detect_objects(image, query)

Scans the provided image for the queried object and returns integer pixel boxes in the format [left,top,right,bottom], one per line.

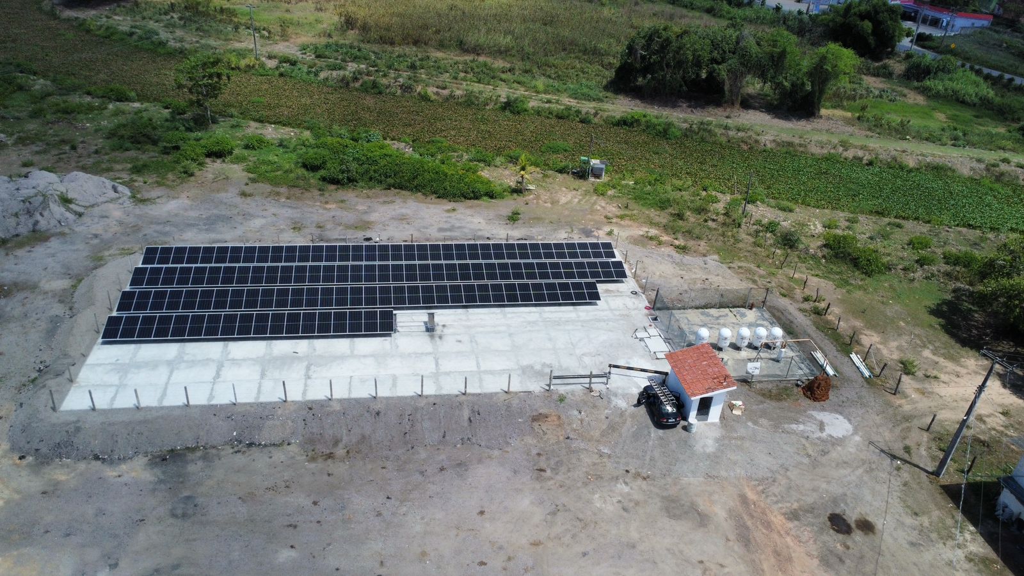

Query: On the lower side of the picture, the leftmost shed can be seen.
[666,344,738,425]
